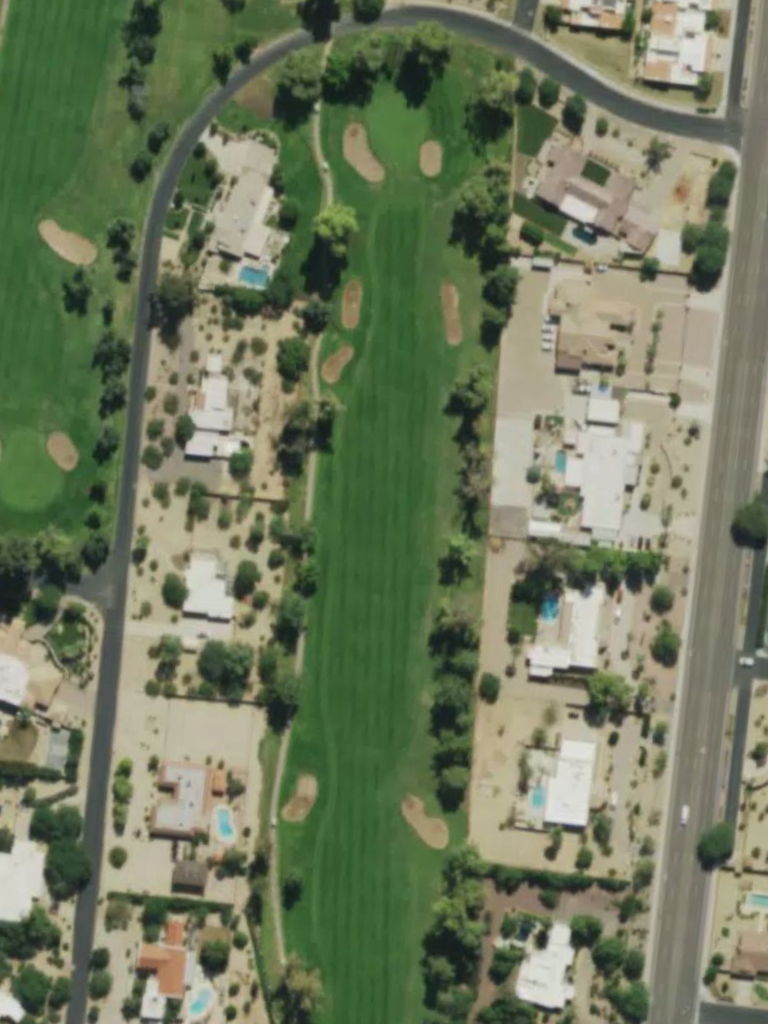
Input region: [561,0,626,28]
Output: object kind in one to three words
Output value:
house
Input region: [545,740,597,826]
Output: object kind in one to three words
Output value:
house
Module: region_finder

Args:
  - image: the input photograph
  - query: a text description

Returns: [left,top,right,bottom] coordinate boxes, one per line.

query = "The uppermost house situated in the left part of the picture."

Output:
[208,172,274,258]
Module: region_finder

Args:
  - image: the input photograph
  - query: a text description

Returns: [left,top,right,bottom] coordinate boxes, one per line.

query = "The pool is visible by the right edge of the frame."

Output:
[744,888,768,913]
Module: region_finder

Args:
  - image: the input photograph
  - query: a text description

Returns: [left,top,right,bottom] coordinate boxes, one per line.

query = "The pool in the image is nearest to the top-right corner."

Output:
[571,225,599,246]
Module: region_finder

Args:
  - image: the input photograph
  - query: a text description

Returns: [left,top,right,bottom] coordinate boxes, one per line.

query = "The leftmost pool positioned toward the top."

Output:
[239,265,269,289]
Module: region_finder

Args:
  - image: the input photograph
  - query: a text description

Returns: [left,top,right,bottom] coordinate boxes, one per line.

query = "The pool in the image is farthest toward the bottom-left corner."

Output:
[186,984,216,1018]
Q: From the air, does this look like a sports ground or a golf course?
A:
golf course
